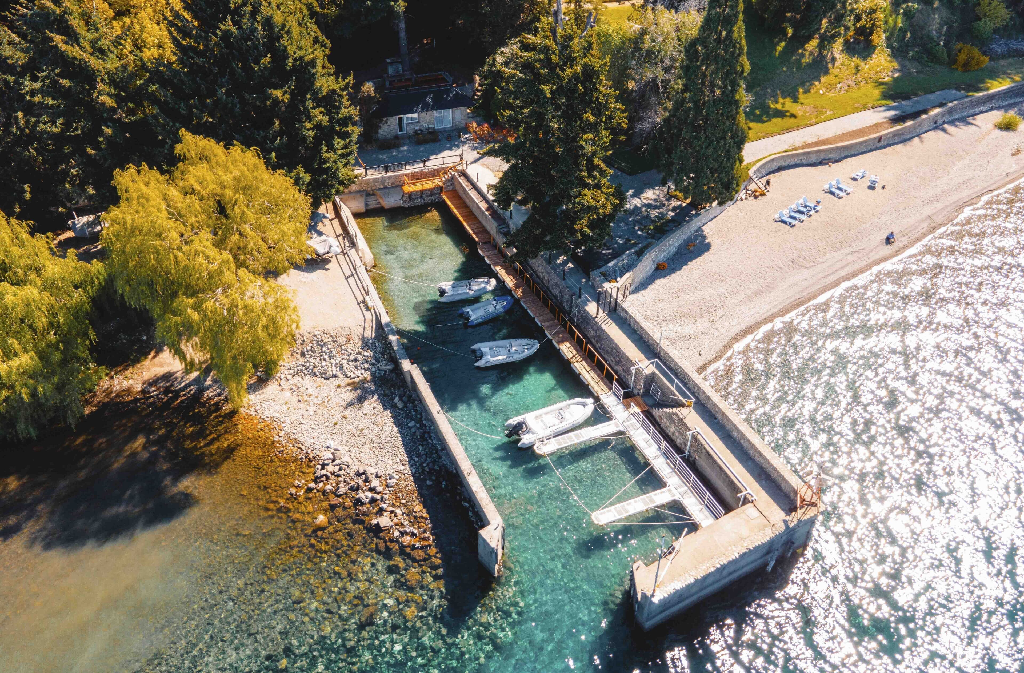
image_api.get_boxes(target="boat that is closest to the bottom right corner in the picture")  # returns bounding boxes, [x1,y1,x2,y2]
[499,397,597,450]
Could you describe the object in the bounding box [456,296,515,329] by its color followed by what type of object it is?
blue boat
